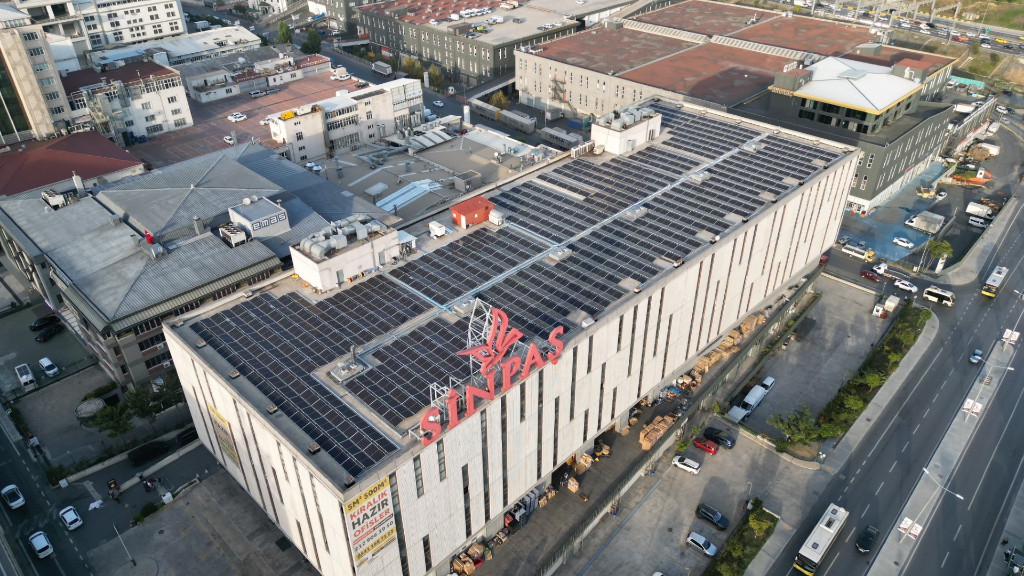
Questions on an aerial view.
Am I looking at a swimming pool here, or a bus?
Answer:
bus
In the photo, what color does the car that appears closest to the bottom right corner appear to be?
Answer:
black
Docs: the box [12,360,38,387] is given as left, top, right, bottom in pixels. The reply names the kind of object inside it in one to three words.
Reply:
vehicle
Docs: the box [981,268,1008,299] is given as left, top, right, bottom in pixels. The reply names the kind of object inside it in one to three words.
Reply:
bus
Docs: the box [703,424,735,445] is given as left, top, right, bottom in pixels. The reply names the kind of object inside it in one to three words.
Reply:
car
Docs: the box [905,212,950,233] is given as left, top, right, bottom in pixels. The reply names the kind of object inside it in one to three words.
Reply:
truck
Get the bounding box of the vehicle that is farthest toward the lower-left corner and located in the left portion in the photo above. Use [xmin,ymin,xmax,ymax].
[26,528,54,559]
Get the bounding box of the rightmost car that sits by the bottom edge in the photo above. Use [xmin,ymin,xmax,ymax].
[856,521,885,552]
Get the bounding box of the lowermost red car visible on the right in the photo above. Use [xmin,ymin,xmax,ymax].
[693,437,718,454]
